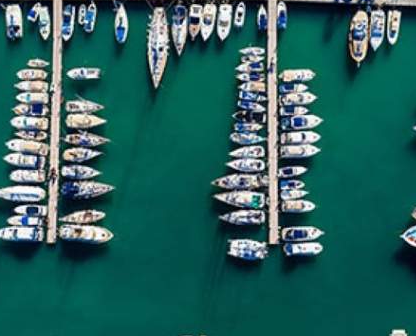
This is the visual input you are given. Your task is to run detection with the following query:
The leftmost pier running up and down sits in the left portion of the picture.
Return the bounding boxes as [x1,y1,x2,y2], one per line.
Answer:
[47,0,63,244]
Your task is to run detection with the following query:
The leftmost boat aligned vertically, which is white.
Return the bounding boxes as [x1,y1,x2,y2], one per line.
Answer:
[6,4,22,40]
